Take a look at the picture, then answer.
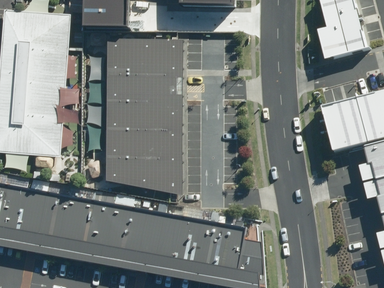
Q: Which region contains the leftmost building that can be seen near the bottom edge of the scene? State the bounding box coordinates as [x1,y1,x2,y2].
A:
[0,185,267,288]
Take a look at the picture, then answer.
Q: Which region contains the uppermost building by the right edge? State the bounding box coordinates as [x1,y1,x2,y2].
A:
[318,0,372,60]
